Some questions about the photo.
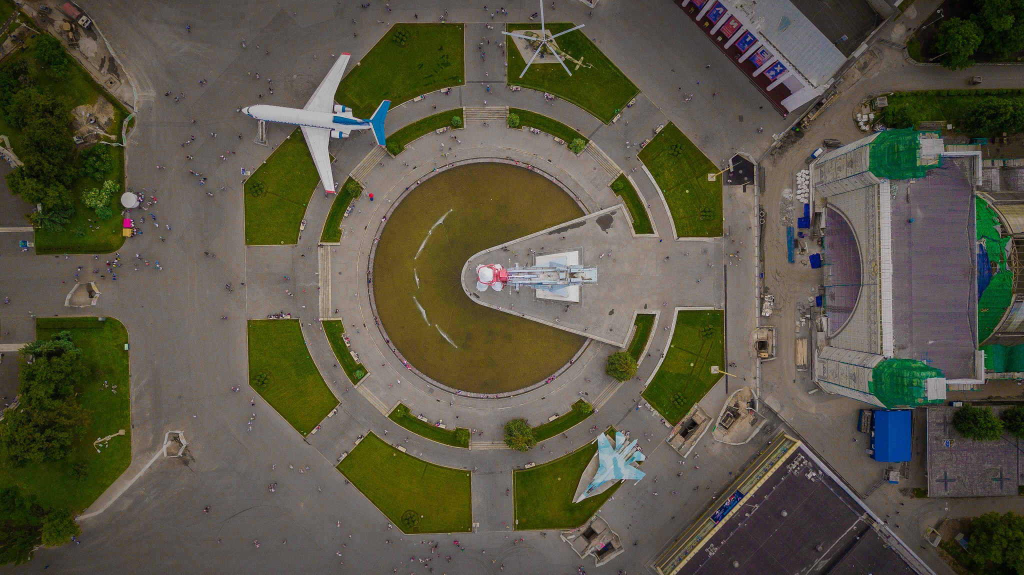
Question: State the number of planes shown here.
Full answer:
My tally gives 2 planes in this view.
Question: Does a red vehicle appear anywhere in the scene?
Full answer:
Yes, the photo shows a red vehicle.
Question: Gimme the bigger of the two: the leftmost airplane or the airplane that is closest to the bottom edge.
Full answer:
Of the two, the leftmost airplane is larger and the airplane that is closest to the bottom edge is the smaller one.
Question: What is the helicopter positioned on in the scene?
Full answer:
The helicopter rests on the grass.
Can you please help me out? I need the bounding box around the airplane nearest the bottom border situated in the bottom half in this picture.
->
[576,432,645,503]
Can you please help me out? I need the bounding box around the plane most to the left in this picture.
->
[244,52,390,196]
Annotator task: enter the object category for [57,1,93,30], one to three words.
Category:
truck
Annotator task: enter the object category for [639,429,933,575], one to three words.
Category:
building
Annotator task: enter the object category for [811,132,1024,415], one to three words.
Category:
building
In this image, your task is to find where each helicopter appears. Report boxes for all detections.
[502,0,597,77]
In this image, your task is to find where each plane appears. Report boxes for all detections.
[244,52,390,196]
[576,432,645,503]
